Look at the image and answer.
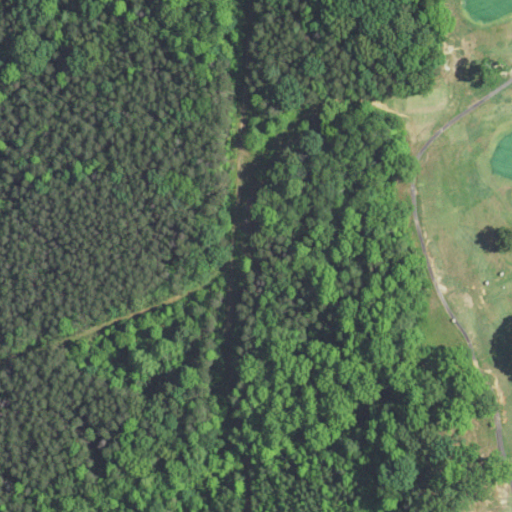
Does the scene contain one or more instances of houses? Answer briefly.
No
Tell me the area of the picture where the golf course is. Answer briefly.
right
